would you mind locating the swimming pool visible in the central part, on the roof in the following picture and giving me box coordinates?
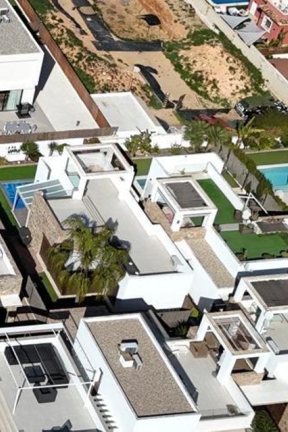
[132,174,157,188]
